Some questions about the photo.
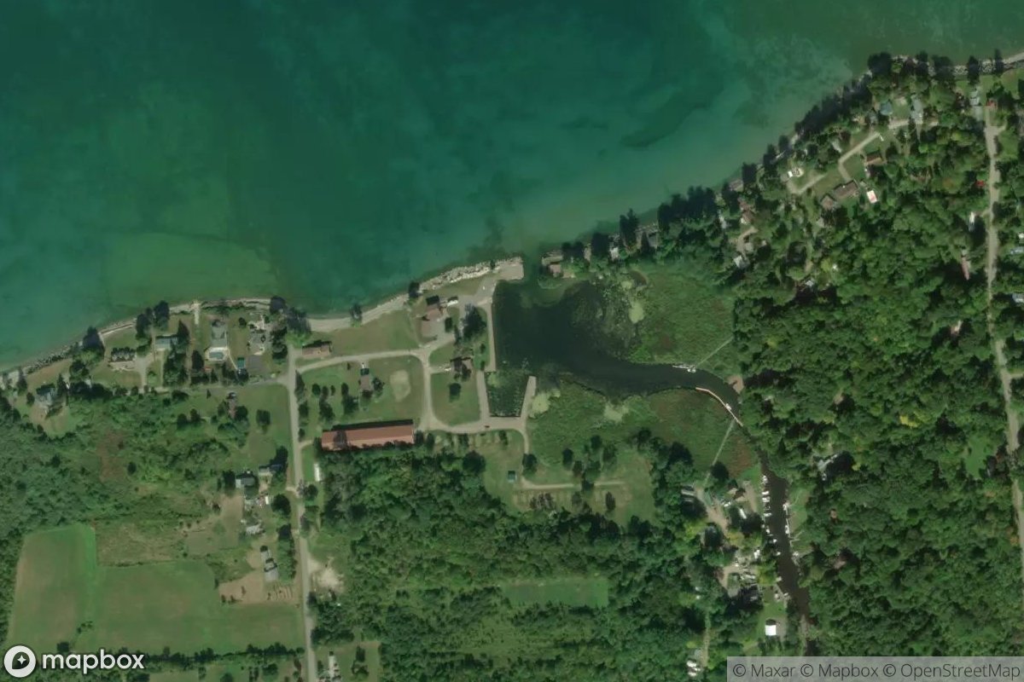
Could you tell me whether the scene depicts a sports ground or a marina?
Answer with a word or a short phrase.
marina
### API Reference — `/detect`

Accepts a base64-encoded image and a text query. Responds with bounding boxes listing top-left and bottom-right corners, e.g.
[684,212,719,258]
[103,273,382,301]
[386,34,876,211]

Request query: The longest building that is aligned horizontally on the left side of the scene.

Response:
[321,426,414,450]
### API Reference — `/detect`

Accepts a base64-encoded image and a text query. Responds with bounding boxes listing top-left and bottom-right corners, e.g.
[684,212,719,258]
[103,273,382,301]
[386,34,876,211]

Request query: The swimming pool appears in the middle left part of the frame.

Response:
[206,347,228,360]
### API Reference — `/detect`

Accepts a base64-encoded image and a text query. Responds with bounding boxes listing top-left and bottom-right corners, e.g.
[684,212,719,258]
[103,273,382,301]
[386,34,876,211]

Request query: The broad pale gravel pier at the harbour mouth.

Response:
[495,260,524,283]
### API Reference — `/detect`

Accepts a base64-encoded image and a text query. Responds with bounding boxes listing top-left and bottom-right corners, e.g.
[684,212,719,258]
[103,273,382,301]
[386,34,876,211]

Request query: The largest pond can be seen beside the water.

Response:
[484,265,746,422]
